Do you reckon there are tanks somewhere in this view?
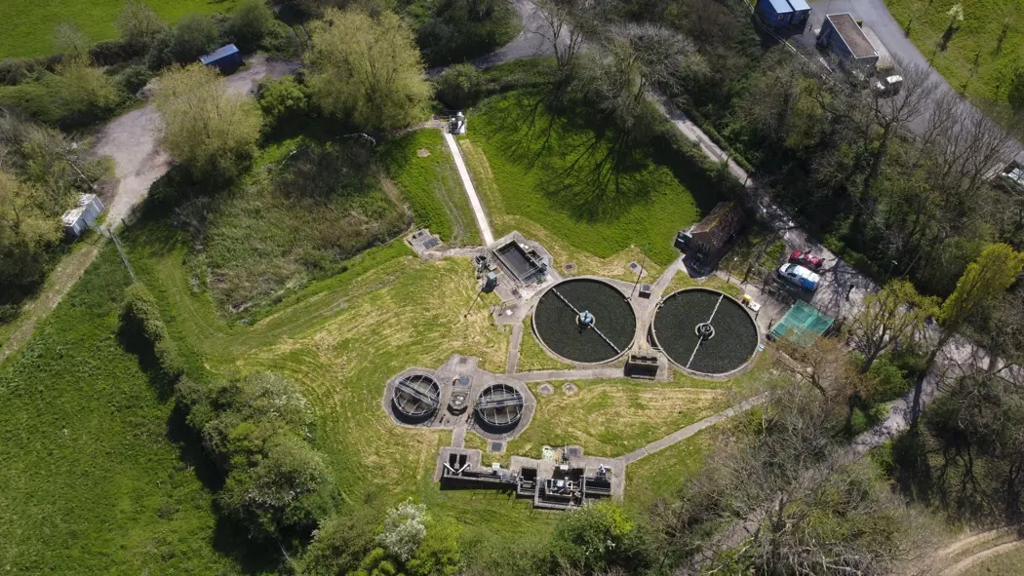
Yes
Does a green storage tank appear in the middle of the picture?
No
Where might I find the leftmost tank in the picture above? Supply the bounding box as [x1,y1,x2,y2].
[393,372,441,420]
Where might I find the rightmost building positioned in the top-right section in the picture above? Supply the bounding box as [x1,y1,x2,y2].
[812,11,880,83]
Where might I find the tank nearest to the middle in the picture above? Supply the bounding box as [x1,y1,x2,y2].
[493,240,541,284]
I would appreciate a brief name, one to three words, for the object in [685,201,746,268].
house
